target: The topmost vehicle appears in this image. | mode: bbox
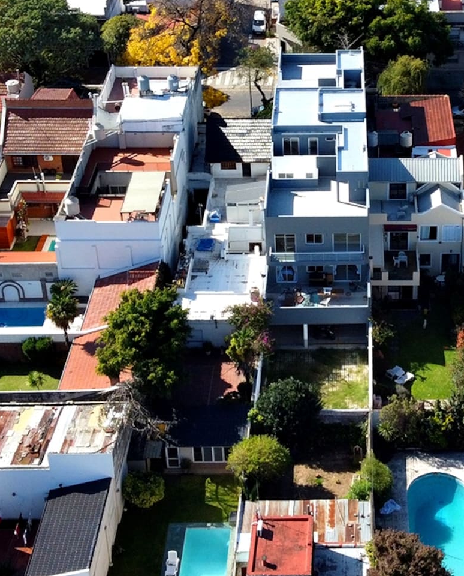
[249,9,267,33]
